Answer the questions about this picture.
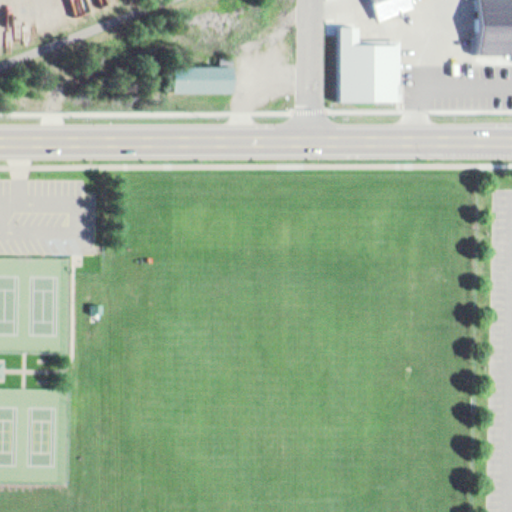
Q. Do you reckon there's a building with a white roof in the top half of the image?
Yes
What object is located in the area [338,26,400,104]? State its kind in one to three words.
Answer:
building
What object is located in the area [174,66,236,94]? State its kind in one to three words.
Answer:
building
